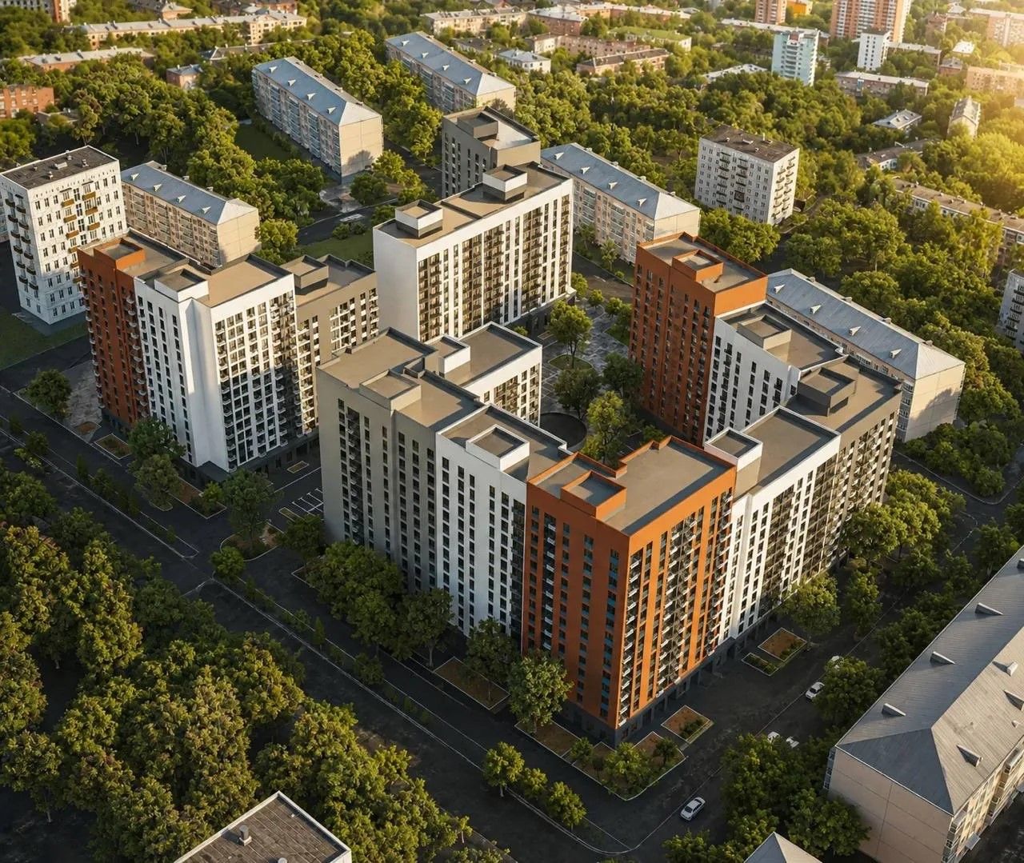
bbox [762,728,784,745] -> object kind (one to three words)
car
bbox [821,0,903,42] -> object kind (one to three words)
building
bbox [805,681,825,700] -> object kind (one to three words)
car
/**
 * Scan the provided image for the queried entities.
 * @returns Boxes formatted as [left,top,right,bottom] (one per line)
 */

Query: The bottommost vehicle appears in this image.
[681,797,703,817]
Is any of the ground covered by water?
No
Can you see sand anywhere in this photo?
No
